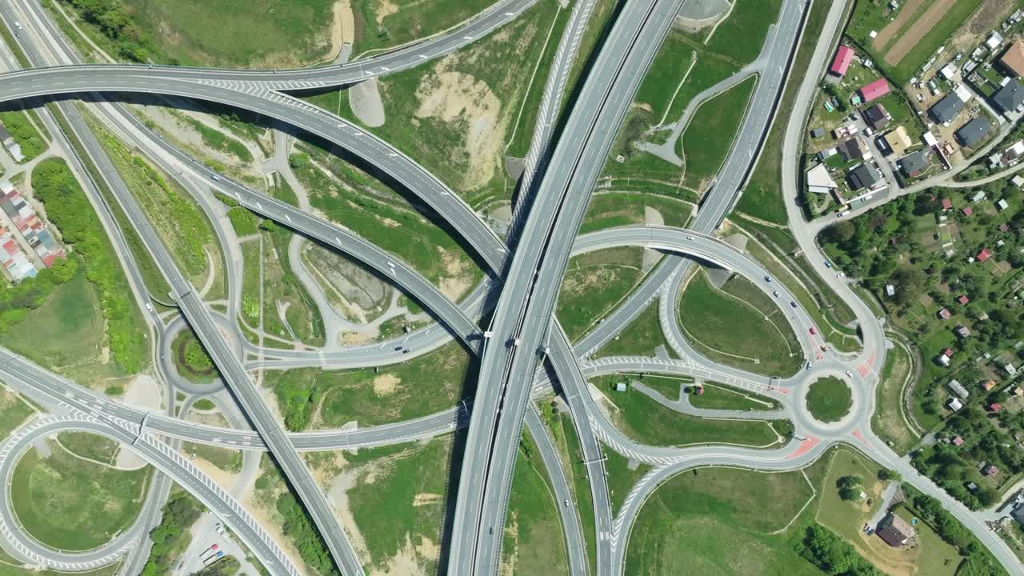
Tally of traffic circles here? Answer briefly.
two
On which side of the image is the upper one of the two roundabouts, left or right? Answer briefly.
left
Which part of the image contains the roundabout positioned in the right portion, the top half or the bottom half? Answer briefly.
bottom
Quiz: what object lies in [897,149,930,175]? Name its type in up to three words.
house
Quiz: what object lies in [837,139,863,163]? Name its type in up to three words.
house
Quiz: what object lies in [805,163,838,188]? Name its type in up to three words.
building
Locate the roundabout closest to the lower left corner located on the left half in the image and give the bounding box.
[160,314,243,395]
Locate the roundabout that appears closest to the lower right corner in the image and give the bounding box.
[788,360,869,440]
